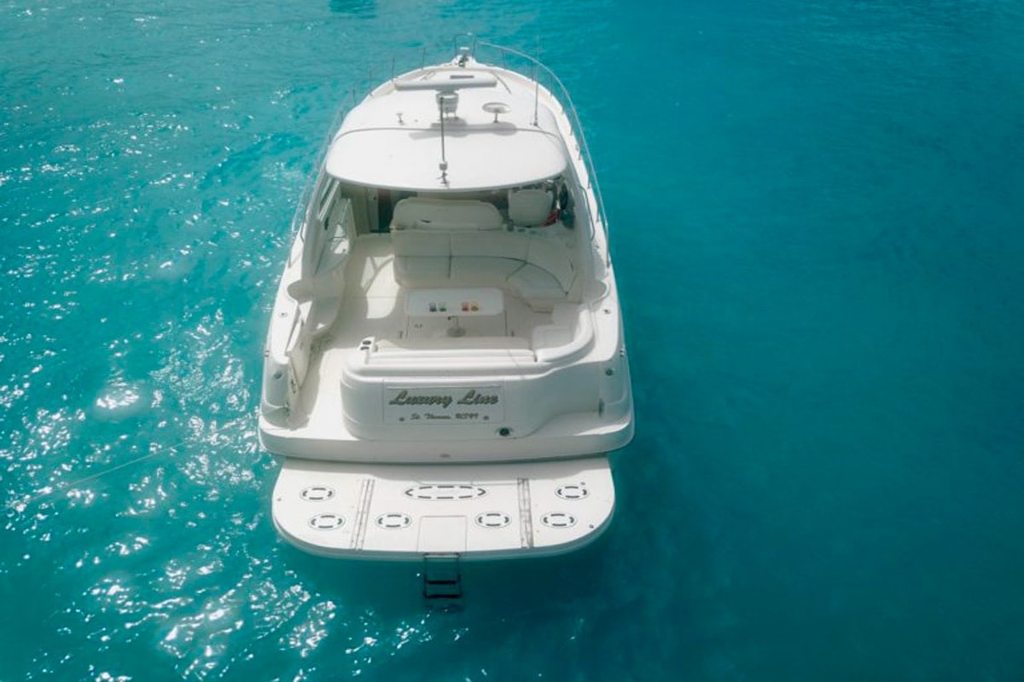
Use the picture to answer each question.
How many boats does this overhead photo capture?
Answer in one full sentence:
In total, 1 boat can be seen.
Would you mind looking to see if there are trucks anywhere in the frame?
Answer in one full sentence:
No, the scene contains no truck.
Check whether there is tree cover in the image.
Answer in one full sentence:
No, tree cover can't be seen anywhere here.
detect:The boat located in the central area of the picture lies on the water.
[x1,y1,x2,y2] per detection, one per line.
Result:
[260,27,632,598]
